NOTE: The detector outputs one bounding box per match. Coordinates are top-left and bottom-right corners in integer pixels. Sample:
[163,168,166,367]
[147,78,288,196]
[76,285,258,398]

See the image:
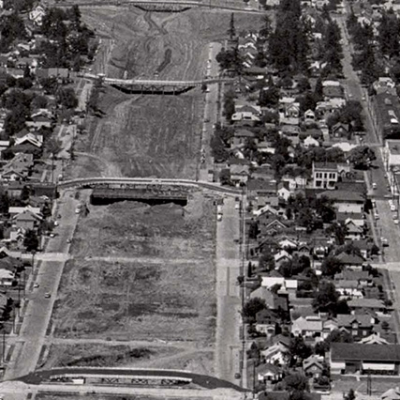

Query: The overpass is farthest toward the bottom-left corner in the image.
[0,363,253,391]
